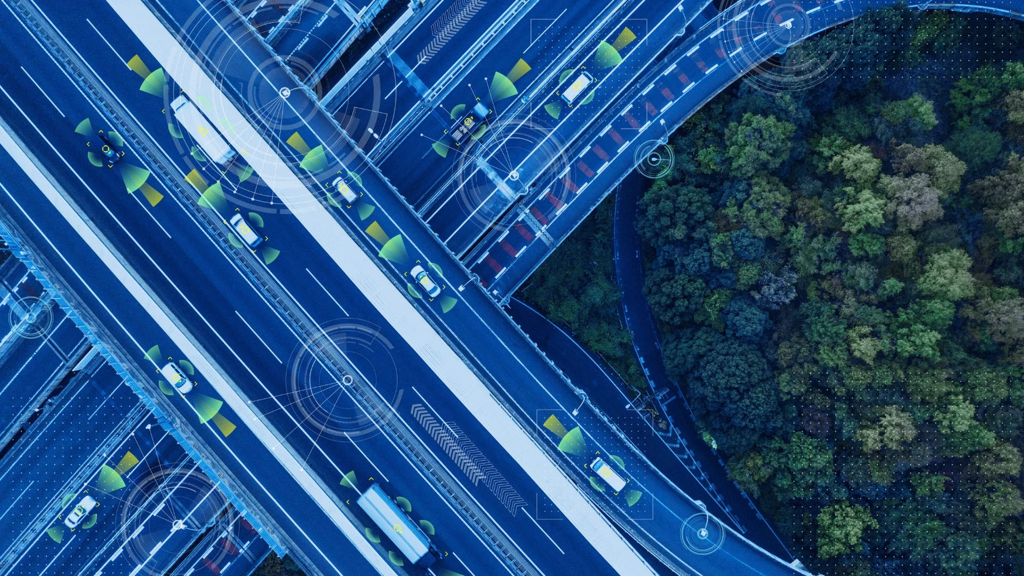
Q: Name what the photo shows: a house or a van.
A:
van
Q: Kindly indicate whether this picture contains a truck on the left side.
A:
Yes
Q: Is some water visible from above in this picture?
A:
No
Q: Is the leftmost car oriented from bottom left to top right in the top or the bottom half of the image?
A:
bottom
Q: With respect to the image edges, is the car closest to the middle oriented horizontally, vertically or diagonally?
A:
diagonally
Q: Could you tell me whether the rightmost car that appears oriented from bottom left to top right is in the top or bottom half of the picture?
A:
top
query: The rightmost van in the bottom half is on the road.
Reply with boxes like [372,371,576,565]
[590,456,627,493]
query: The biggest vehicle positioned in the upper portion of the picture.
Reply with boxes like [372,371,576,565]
[169,93,244,170]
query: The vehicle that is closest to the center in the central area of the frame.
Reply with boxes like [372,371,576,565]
[410,265,442,298]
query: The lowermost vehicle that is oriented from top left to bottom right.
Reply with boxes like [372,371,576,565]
[357,480,445,576]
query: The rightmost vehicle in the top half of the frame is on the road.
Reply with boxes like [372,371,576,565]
[561,73,593,105]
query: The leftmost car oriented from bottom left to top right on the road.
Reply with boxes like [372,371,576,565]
[64,495,98,529]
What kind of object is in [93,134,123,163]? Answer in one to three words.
car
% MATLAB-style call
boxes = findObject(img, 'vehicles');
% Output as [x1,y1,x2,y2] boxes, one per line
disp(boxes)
[446,100,490,146]
[410,265,442,298]
[561,73,593,105]
[160,360,195,394]
[64,495,98,529]
[93,134,123,163]
[332,176,359,204]
[230,213,263,248]
[357,480,445,576]
[590,456,627,493]
[169,93,244,170]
